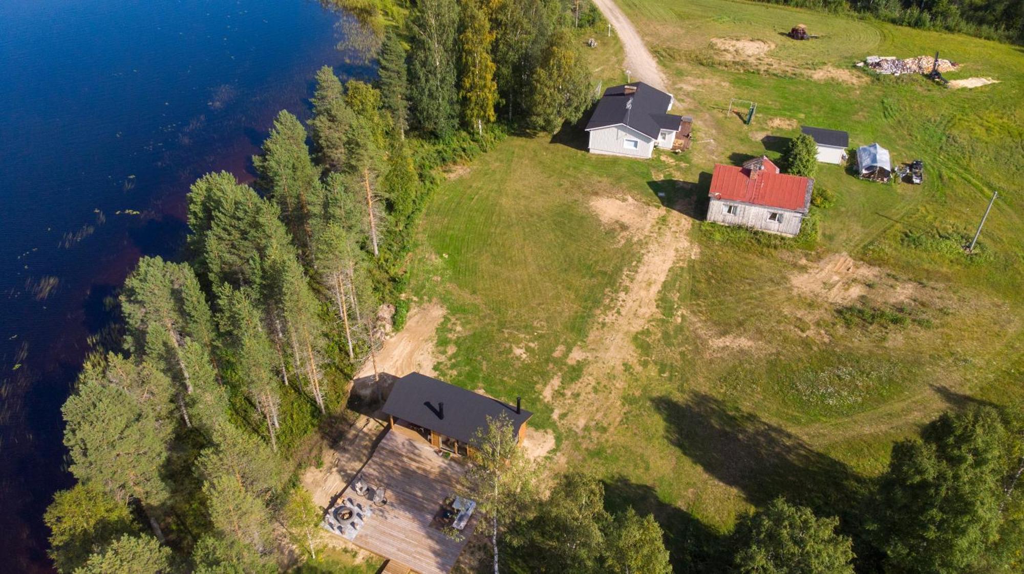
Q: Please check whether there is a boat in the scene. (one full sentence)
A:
No, the scene contains no boat.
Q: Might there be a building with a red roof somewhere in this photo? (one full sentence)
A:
Yes, the photo shows a building with a red roof.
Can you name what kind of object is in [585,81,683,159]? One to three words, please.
house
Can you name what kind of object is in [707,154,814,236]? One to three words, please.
house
